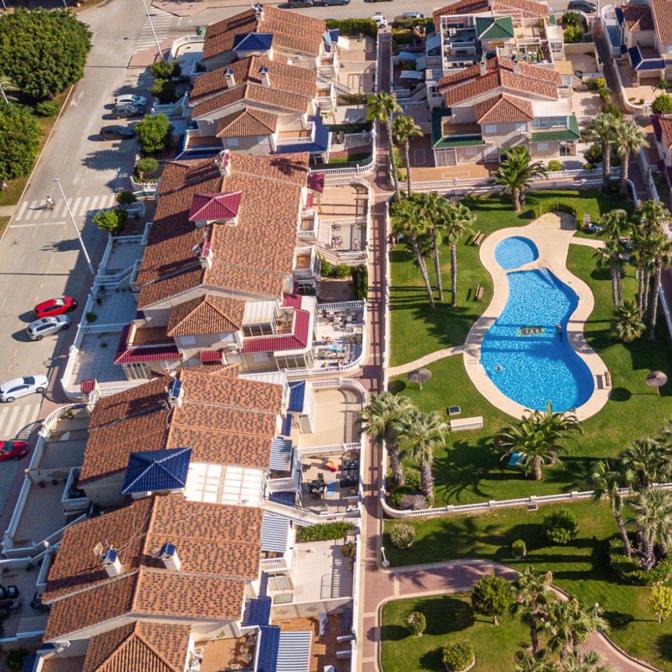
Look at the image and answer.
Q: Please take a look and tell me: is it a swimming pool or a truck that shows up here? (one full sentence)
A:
This aerial view contains a swimming pool.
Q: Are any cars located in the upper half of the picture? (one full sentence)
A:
Yes, I can see a car in the upper half of the picture.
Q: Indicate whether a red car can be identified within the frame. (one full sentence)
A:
Yes, a red car can be made out from above.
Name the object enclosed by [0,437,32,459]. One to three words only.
car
